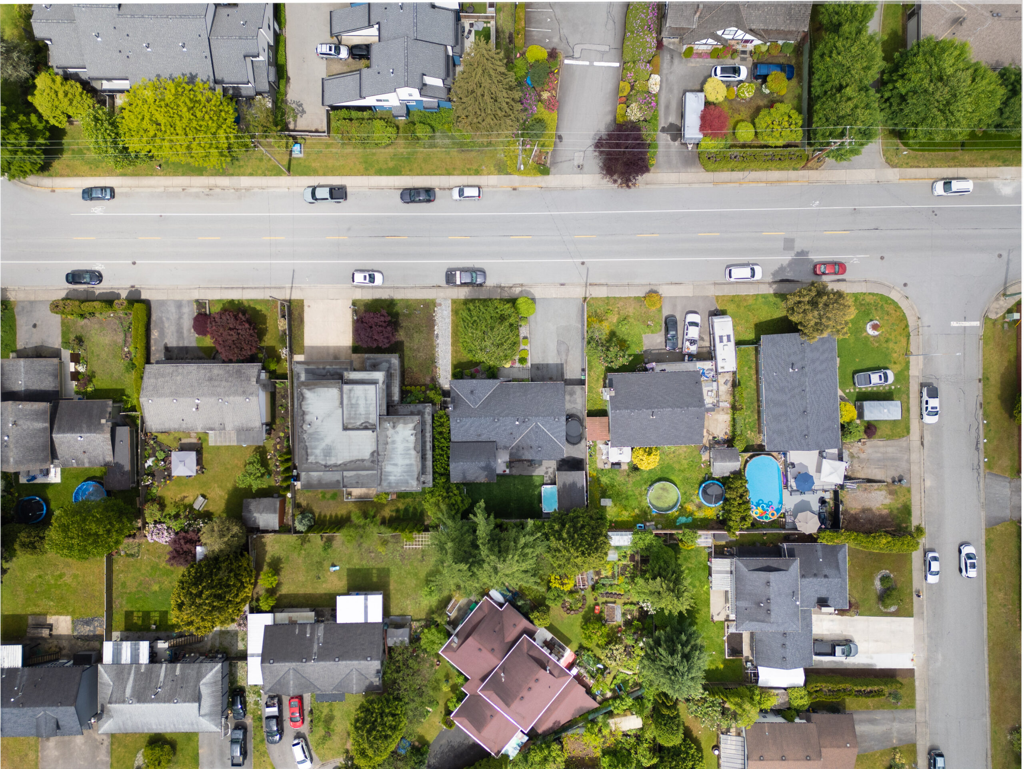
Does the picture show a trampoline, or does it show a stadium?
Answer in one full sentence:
There is a trampoline in the scene.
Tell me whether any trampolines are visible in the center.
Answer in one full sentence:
Yes, looking in the center, one can make out a trampoline.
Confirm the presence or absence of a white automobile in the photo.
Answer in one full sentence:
Yes, there is a white automobile in the image.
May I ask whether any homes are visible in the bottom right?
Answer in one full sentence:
Yes, a home can be seen in the bottom right.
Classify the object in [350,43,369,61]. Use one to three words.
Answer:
car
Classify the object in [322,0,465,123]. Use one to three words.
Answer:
house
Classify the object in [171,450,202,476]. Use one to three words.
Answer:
gazebo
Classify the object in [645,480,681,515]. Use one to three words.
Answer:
swimming pool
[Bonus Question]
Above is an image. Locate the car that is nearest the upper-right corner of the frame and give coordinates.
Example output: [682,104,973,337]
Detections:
[929,179,974,196]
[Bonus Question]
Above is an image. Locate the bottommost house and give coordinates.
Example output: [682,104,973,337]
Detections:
[716,705,861,769]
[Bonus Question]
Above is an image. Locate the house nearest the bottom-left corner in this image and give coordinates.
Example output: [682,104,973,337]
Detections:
[0,636,102,742]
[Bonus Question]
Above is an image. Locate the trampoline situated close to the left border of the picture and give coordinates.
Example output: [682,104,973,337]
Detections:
[10,494,49,525]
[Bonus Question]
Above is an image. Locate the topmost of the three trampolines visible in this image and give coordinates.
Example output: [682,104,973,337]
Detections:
[566,415,582,446]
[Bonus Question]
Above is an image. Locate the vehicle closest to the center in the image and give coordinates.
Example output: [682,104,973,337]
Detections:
[445,268,487,285]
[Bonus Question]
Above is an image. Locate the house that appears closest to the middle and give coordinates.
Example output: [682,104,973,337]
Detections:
[448,379,566,482]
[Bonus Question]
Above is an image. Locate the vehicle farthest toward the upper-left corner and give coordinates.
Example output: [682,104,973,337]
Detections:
[83,185,118,202]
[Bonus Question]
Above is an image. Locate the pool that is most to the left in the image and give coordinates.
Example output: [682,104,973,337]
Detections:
[73,479,110,511]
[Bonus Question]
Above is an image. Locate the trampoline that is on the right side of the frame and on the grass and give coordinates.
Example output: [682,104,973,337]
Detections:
[698,480,728,508]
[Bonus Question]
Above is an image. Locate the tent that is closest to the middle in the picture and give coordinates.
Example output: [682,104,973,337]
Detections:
[607,446,631,462]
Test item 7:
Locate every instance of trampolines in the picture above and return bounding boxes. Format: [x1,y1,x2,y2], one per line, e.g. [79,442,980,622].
[698,480,728,508]
[566,415,582,446]
[10,494,49,525]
